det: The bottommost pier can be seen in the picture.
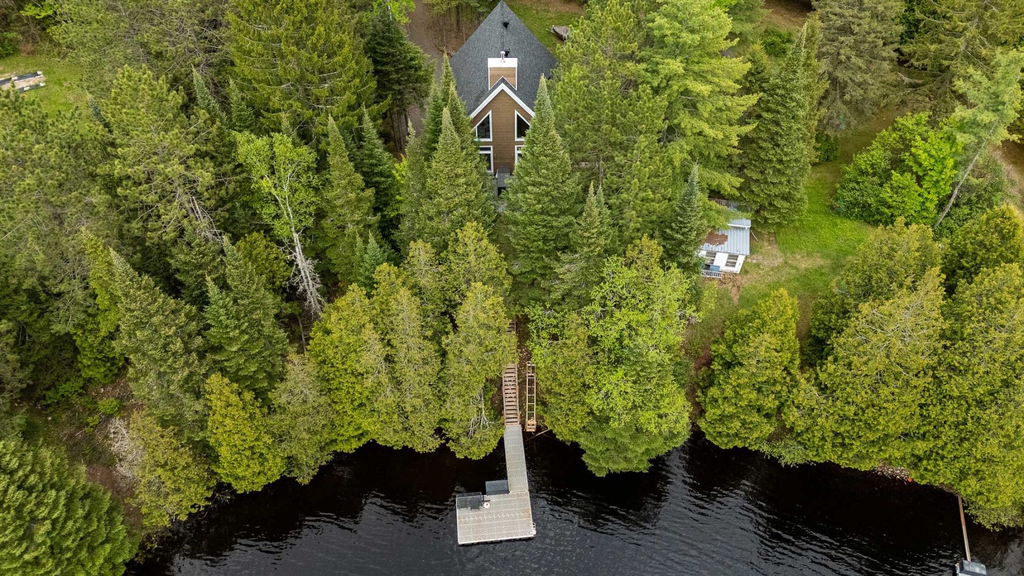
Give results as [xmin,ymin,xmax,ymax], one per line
[455,491,537,545]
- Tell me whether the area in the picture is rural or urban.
rural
